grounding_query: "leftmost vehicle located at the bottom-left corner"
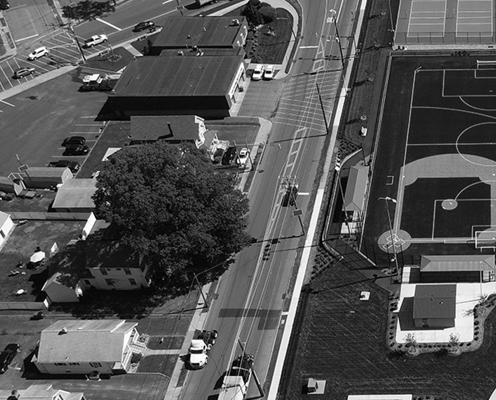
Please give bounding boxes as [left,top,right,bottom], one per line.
[0,345,20,374]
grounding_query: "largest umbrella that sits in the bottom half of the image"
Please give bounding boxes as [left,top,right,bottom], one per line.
[29,252,46,265]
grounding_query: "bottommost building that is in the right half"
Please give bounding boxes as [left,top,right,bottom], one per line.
[414,286,456,327]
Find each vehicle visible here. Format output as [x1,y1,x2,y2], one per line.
[252,64,266,81]
[236,148,251,164]
[13,67,36,78]
[280,185,299,207]
[49,158,81,171]
[0,0,10,8]
[218,357,253,400]
[263,64,276,81]
[64,146,88,156]
[61,135,86,147]
[82,36,109,47]
[77,75,110,91]
[134,22,154,32]
[187,331,222,373]
[223,146,238,164]
[28,45,50,59]
[0,345,20,374]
